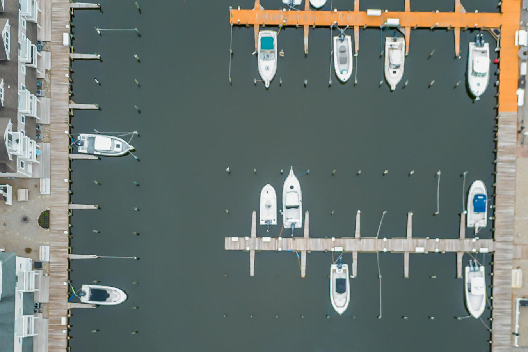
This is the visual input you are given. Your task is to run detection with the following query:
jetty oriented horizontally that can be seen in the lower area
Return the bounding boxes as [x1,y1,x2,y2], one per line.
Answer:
[225,210,496,279]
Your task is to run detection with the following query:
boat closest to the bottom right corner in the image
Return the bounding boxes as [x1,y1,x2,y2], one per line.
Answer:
[464,259,486,319]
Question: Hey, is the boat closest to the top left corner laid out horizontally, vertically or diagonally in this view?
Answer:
horizontally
